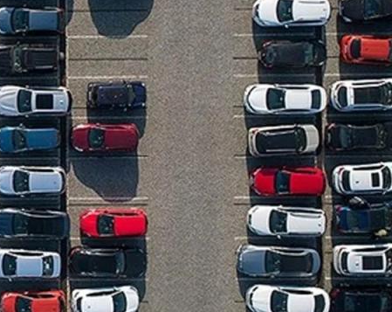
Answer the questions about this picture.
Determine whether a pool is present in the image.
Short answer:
No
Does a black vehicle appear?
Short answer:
Yes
